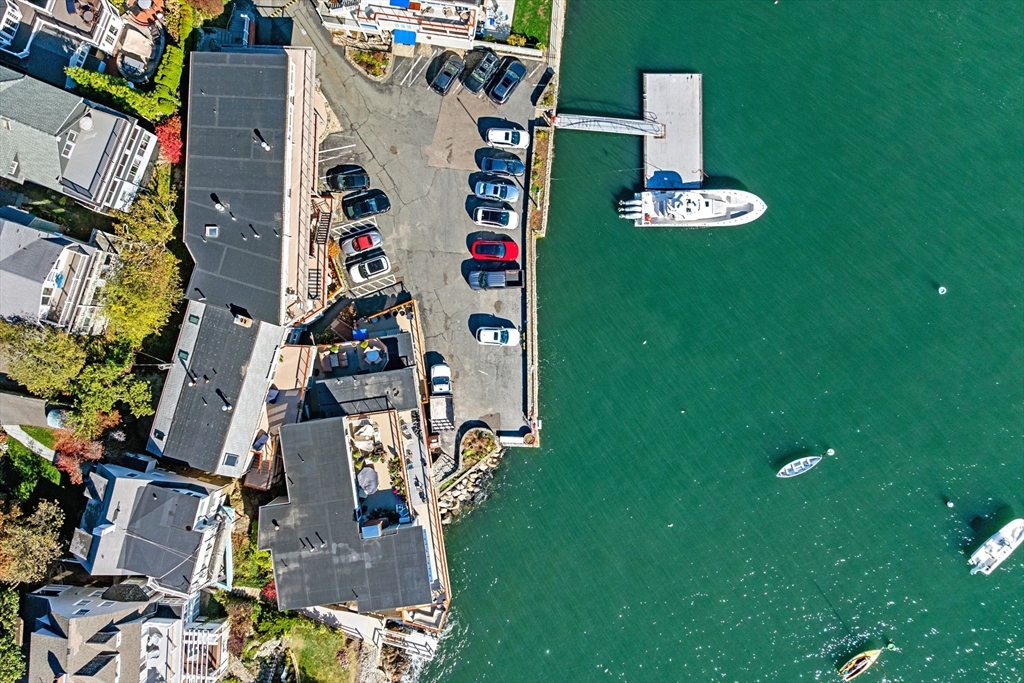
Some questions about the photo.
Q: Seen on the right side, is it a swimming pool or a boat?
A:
boat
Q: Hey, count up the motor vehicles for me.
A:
16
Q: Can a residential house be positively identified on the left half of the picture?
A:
Yes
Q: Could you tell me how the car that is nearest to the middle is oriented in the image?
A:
from left to right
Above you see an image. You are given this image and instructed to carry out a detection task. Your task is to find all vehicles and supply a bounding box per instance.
[475,326,521,348]
[485,127,530,150]
[326,170,373,193]
[430,52,465,97]
[341,231,384,257]
[45,408,92,431]
[348,256,392,282]
[490,59,526,106]
[472,207,519,229]
[473,181,520,203]
[468,268,525,292]
[429,365,453,434]
[472,239,518,262]
[463,47,499,96]
[479,155,526,177]
[342,192,392,220]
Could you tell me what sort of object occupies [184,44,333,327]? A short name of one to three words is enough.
building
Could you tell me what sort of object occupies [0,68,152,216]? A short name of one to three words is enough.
house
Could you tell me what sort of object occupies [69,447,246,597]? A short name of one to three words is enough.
house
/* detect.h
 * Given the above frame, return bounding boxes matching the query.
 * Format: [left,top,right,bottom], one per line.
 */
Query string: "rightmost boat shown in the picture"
[971,515,1024,576]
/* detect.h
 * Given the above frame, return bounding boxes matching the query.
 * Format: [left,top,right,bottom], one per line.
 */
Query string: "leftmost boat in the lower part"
[776,456,824,478]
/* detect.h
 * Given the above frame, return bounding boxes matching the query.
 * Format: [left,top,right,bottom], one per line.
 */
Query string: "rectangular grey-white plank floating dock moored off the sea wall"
[642,72,704,189]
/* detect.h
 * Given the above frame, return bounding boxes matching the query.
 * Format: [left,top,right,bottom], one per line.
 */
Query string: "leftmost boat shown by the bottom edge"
[839,649,894,683]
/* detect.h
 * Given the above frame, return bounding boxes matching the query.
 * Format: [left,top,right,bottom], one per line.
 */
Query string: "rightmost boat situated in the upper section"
[617,179,768,225]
